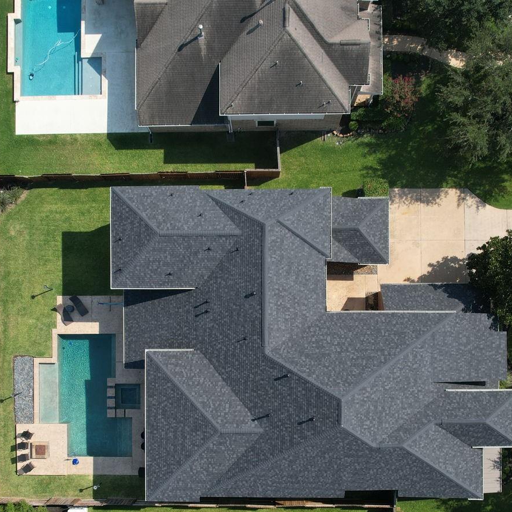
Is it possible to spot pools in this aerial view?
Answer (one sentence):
Yes, you can see a pool in this photo.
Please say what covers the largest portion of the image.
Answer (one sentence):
For the most part, this view shows buildings.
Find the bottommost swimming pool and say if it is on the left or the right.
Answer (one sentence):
The bottommost swimming pool sits on the left side.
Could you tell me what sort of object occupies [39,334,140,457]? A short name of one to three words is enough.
swimming pool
